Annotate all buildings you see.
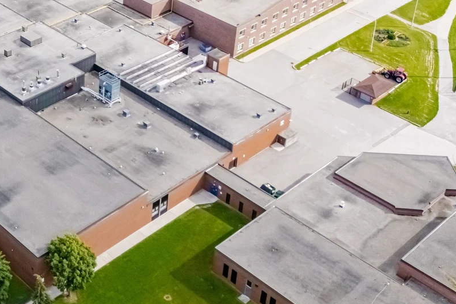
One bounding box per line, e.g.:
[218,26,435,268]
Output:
[0,0,304,289]
[352,75,401,111]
